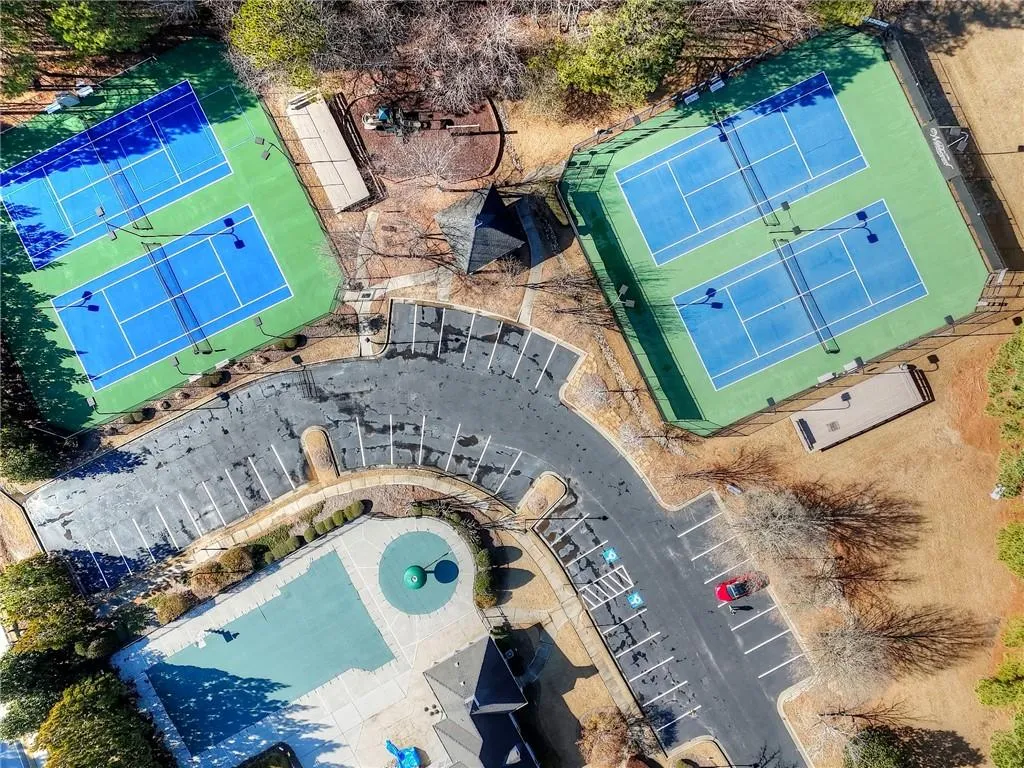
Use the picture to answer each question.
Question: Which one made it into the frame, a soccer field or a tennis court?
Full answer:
I can see a tennis court in this picture.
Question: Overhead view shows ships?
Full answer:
No, the frame has no ship in it.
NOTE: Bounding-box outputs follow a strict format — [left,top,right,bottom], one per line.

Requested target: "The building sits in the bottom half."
[423,635,549,768]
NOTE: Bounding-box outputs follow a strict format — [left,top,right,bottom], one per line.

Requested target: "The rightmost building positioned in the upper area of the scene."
[435,184,527,274]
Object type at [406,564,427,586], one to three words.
fountain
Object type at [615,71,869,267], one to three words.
tennis court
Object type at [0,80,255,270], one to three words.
tennis court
